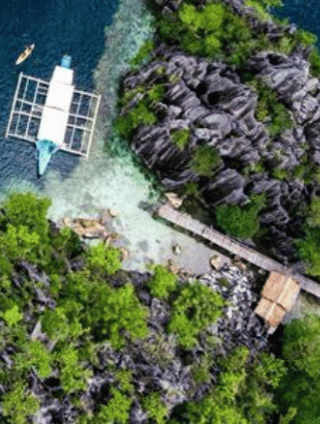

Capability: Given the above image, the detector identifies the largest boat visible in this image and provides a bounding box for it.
[5,55,100,175]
